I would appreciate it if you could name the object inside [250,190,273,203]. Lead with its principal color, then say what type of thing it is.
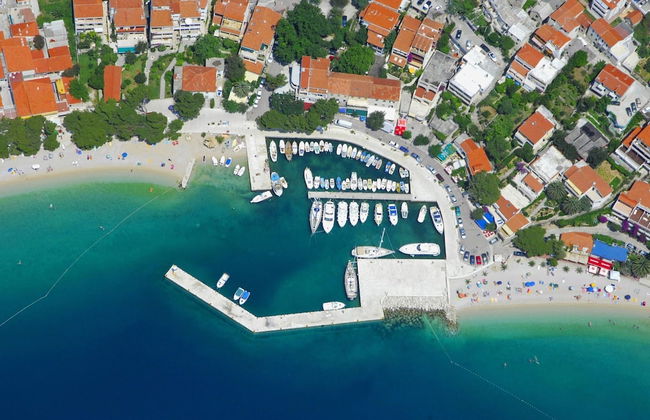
white boat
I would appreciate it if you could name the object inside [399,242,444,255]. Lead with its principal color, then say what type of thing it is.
white boat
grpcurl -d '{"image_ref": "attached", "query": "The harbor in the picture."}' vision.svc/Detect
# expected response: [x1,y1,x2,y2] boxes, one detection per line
[209,130,490,323]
